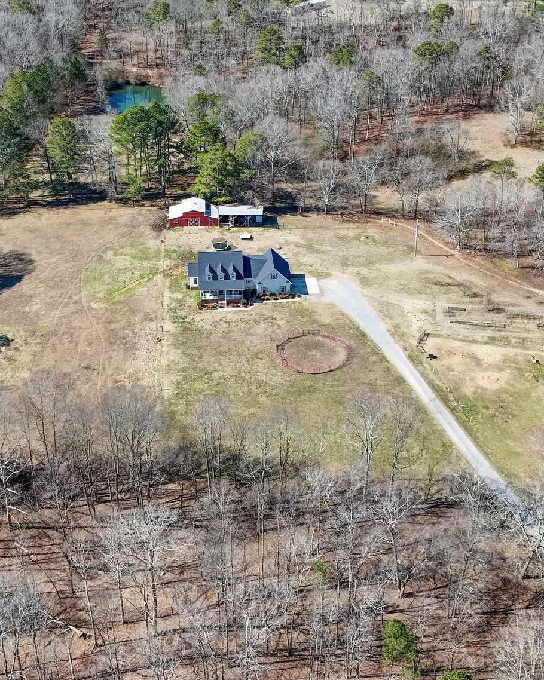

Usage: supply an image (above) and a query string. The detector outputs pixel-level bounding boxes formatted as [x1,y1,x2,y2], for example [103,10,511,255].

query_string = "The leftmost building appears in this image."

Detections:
[169,195,221,226]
